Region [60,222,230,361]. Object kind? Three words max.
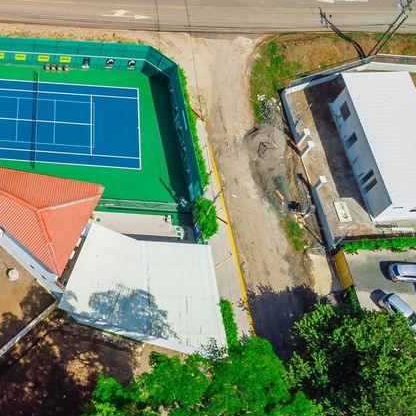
building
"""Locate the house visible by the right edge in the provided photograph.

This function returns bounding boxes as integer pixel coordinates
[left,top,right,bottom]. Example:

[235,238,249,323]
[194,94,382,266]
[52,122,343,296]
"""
[329,73,416,221]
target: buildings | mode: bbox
[0,168,106,291]
[60,222,230,361]
[329,73,416,221]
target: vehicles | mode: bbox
[389,264,416,286]
[380,291,416,325]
